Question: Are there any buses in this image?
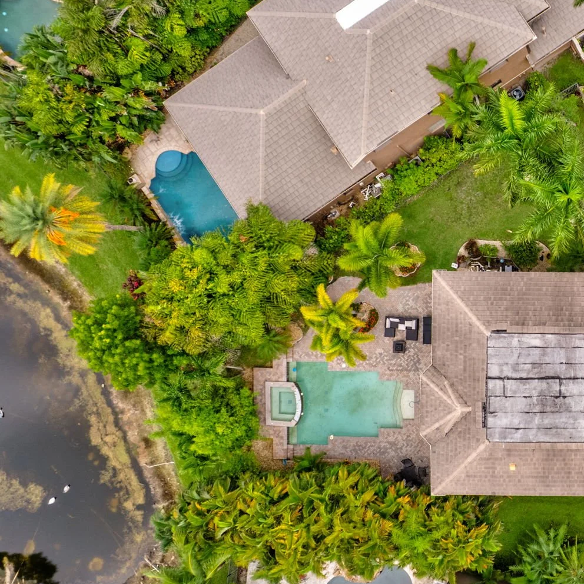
No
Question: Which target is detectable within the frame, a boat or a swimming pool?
swimming pool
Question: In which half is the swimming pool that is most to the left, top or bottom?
top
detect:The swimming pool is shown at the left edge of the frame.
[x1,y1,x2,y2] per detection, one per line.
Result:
[0,0,66,67]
